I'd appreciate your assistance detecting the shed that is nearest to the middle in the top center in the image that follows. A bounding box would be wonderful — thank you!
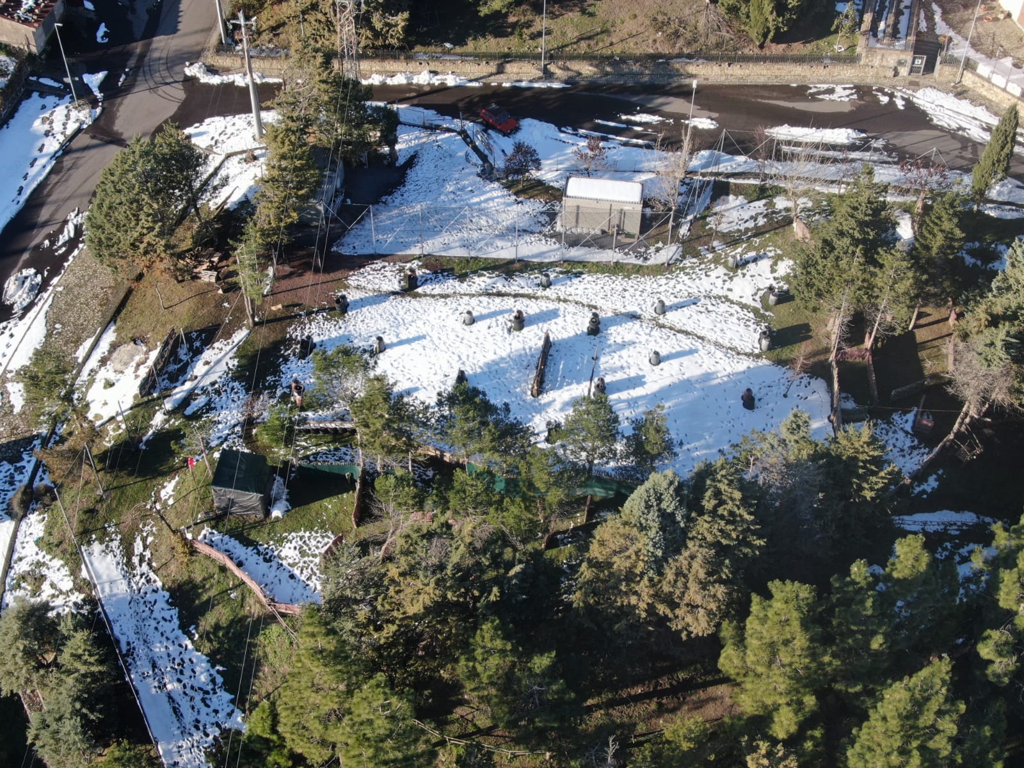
[556,175,647,241]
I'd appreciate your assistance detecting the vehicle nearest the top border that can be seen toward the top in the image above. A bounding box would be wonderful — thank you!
[474,98,523,134]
